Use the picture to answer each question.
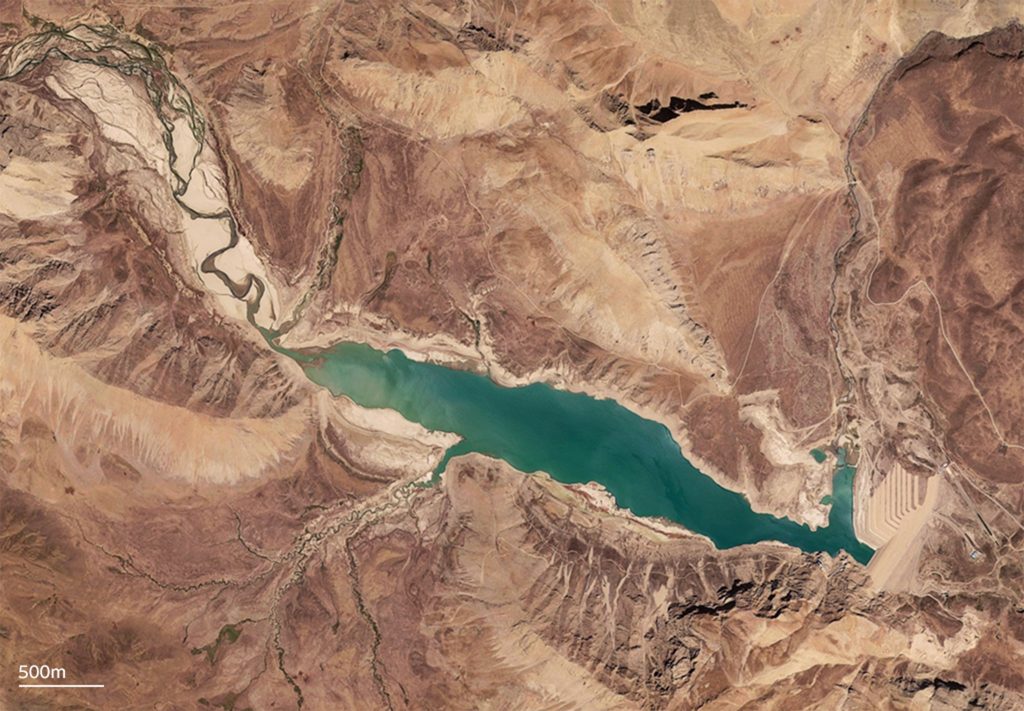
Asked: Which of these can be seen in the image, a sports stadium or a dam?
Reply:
dam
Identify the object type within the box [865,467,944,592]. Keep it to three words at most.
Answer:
dam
